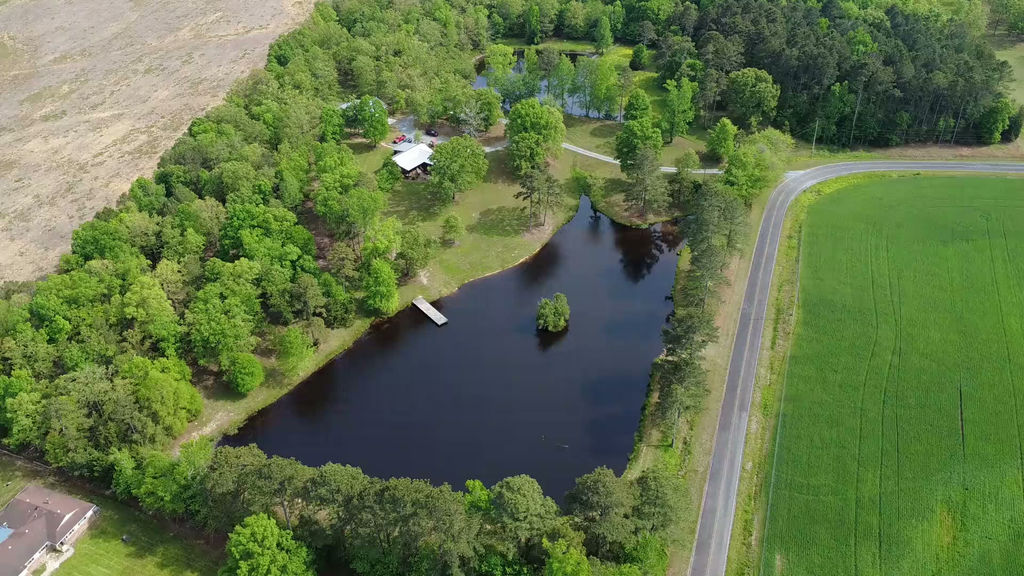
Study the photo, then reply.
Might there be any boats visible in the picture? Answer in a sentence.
No, this view has no boat in it.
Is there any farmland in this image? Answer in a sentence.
Yes, farmland shows up in the scene.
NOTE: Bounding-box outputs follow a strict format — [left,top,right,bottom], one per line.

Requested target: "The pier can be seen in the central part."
[413,298,449,328]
